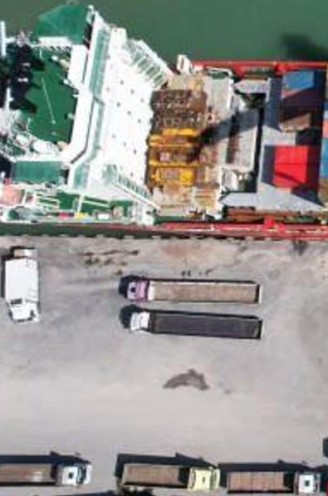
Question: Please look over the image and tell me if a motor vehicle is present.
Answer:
Yes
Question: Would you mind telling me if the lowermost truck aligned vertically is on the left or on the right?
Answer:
left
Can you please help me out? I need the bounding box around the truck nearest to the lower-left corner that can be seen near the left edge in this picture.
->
[0,459,104,487]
